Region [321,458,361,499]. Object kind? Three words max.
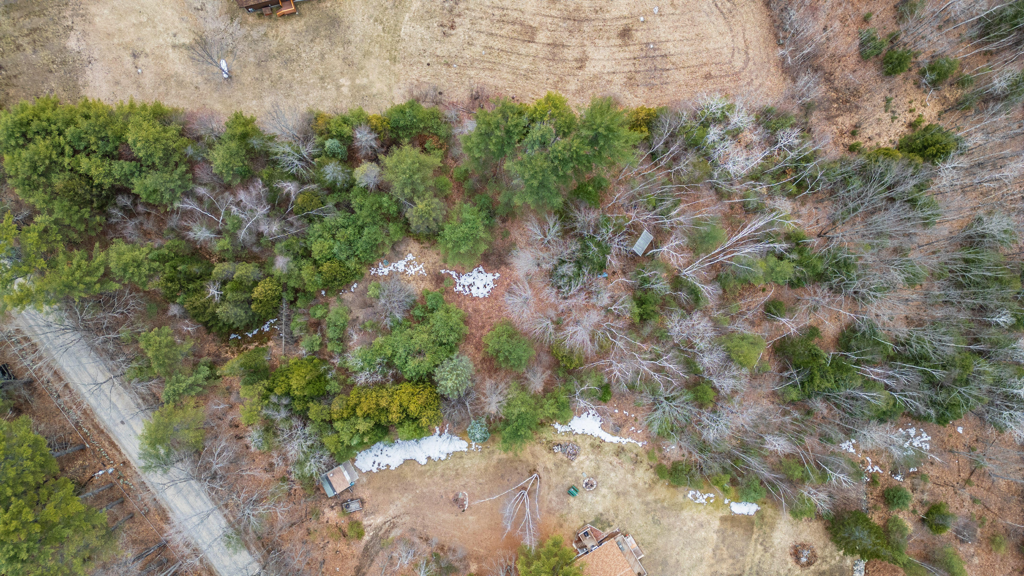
shed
